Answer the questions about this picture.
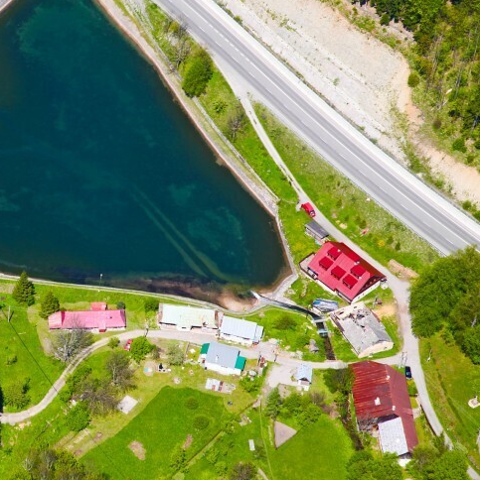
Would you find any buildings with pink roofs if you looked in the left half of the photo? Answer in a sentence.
Yes, in the left half of the photo there is a building with a pink roof.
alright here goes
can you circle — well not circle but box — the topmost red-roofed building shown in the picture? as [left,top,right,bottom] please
[300,241,387,304]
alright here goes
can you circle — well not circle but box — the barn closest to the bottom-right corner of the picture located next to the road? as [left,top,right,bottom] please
[349,365,419,480]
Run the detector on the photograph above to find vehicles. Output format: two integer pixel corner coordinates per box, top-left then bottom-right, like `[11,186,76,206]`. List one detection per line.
[403,365,414,378]
[303,199,318,216]
[124,337,132,349]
